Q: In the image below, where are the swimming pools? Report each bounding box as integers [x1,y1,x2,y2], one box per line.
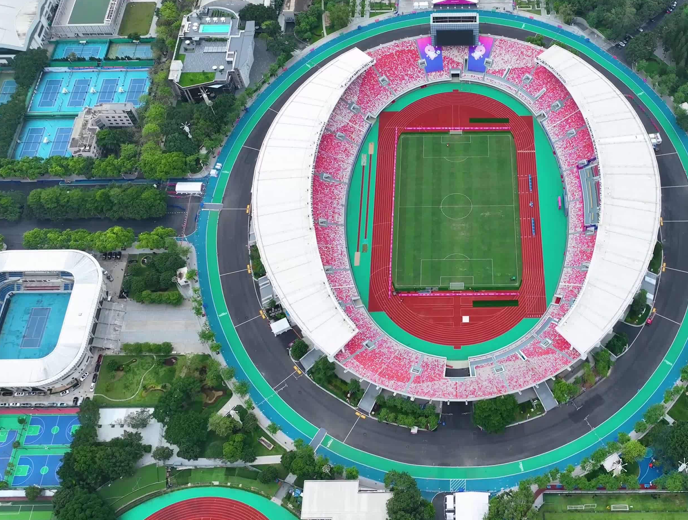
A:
[52,0,122,33]
[199,25,229,32]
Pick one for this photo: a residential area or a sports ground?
sports ground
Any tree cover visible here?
Yes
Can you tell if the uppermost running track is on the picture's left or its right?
right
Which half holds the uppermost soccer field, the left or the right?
right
